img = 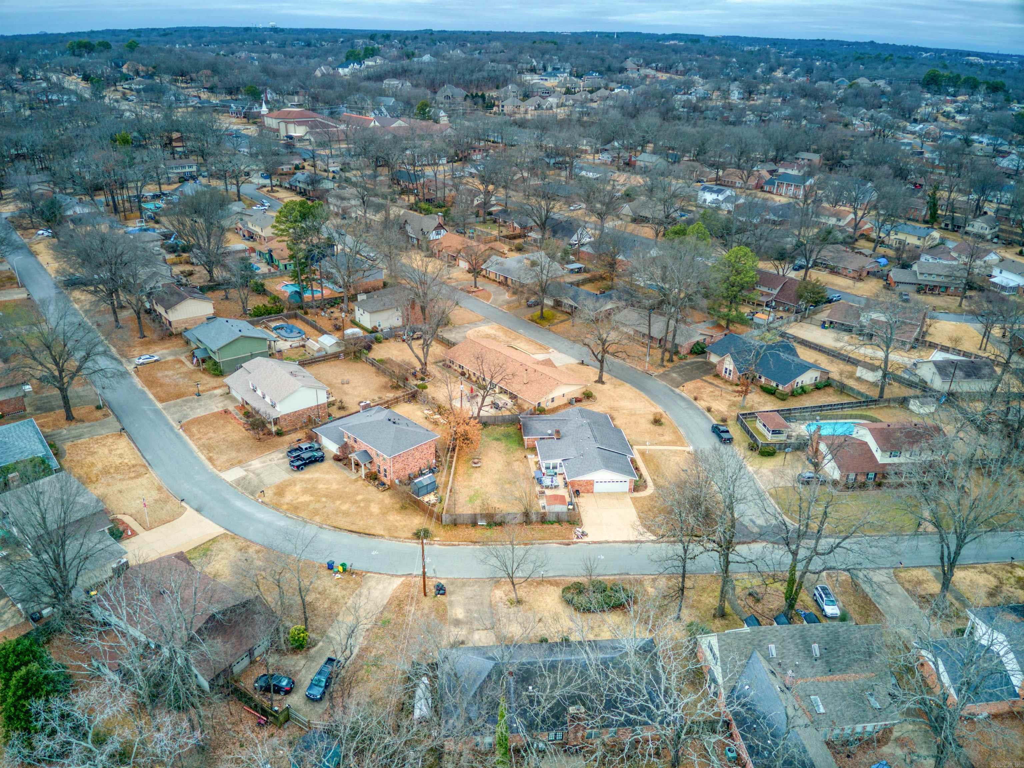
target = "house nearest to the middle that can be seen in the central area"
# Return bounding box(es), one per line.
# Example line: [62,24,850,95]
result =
[443,336,591,415]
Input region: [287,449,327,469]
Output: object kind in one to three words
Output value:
vehicle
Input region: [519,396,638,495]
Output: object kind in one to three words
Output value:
house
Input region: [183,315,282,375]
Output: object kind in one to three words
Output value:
building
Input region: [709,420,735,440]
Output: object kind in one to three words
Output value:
vehicle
